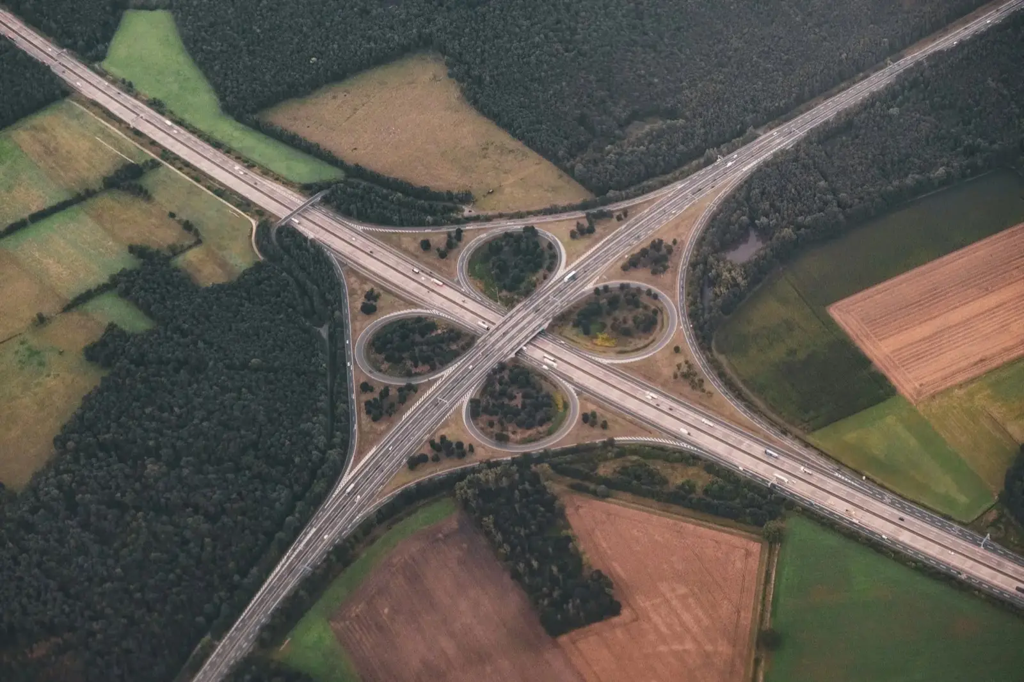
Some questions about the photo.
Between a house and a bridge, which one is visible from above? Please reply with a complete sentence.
Looking from above, you can make out a bridge.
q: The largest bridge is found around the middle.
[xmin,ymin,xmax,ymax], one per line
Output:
[473,300,556,361]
